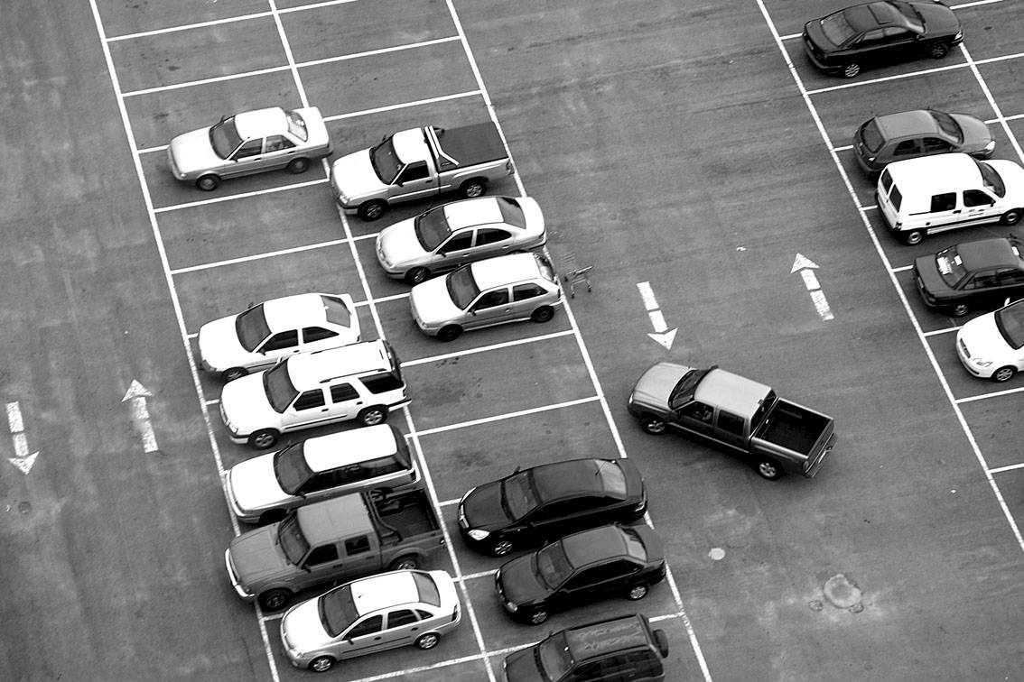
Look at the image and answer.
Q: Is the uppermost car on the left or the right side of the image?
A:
right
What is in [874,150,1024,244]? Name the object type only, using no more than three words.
van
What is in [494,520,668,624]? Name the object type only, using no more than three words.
car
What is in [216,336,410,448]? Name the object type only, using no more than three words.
vehicle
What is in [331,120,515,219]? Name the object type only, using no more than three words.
truck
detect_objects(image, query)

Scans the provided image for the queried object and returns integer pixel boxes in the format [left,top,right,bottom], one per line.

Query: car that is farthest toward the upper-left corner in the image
[165,106,331,191]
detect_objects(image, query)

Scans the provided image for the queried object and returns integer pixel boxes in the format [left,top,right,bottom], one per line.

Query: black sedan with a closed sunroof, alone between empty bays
[802,0,964,77]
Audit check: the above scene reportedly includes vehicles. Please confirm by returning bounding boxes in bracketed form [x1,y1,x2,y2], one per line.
[165,106,331,191]
[802,0,964,77]
[197,290,364,381]
[216,336,410,448]
[277,565,461,670]
[628,363,838,485]
[375,192,546,284]
[912,229,1024,318]
[498,610,673,682]
[957,299,1024,381]
[408,251,563,341]
[857,103,998,178]
[331,120,515,219]
[223,482,449,609]
[456,450,647,558]
[494,520,668,624]
[226,423,420,525]
[874,150,1024,244]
